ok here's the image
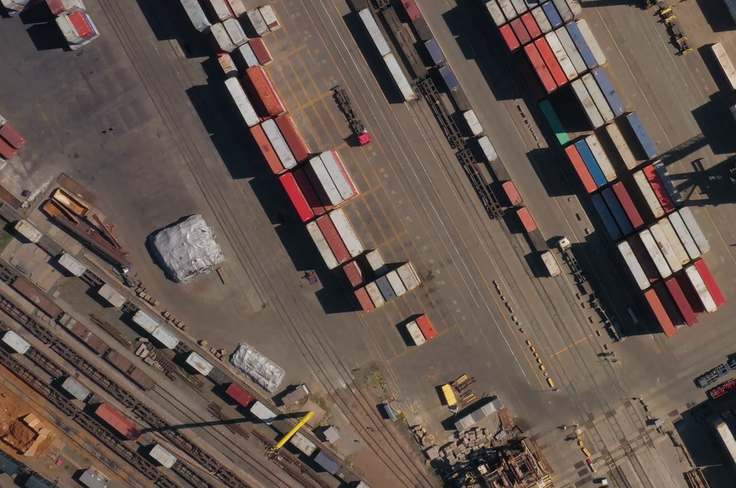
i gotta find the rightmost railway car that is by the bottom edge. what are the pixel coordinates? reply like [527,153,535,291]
[315,453,357,488]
